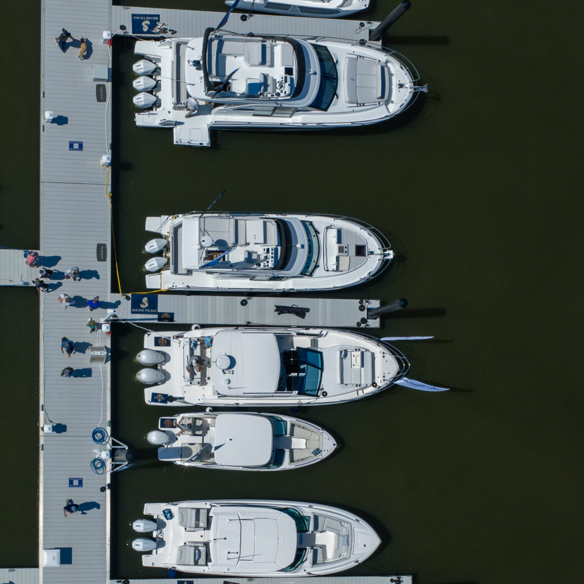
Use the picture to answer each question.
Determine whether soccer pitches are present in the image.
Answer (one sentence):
No, there is no soccer pitch in the image.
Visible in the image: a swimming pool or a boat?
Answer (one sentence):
This aerial view contains a boat.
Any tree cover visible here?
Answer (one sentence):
No, there is no tree cover in the image.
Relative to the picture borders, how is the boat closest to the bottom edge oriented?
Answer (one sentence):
In this picture, the boat closest to the bottom edge lies from left to right.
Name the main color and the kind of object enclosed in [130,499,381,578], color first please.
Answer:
white boat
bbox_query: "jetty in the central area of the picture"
[111,294,380,328]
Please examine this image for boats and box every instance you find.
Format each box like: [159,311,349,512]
[146,411,340,472]
[143,211,393,293]
[225,0,370,18]
[134,327,410,407]
[131,26,428,147]
[130,499,381,578]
